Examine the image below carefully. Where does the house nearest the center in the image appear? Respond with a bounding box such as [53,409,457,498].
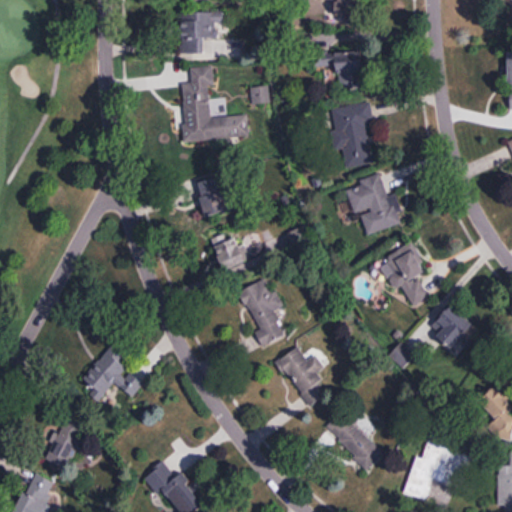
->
[211,232,246,272]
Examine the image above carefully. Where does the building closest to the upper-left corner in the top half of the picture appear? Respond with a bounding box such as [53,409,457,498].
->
[180,10,224,52]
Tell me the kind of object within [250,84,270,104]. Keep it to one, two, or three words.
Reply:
building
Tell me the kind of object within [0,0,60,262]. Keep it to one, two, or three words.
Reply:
golf course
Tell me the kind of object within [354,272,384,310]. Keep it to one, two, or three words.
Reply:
swimming pool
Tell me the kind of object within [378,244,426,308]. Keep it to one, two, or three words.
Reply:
house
